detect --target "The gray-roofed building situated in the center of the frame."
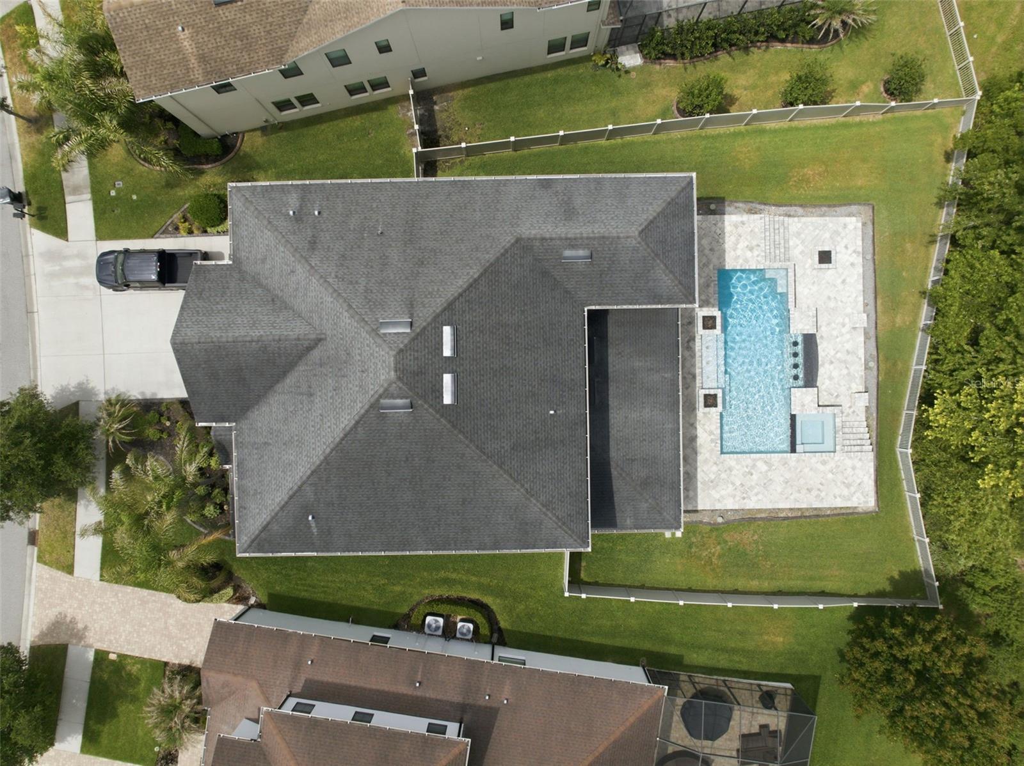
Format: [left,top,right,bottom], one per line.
[171,173,697,556]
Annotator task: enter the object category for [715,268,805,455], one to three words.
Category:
swimming pool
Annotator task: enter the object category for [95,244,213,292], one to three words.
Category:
truck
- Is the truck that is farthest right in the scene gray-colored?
Yes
